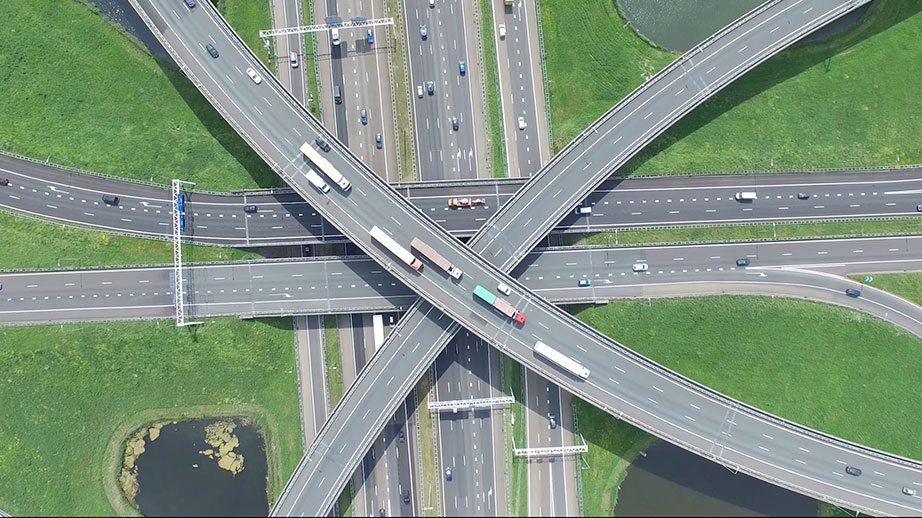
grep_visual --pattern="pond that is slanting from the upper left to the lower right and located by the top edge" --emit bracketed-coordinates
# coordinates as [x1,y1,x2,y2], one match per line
[90,0,180,70]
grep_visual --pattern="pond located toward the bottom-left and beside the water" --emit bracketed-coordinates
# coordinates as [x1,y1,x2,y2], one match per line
[121,416,270,518]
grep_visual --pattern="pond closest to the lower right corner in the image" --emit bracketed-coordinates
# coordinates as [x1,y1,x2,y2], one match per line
[613,440,818,518]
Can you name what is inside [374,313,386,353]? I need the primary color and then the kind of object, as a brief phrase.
white vehicle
